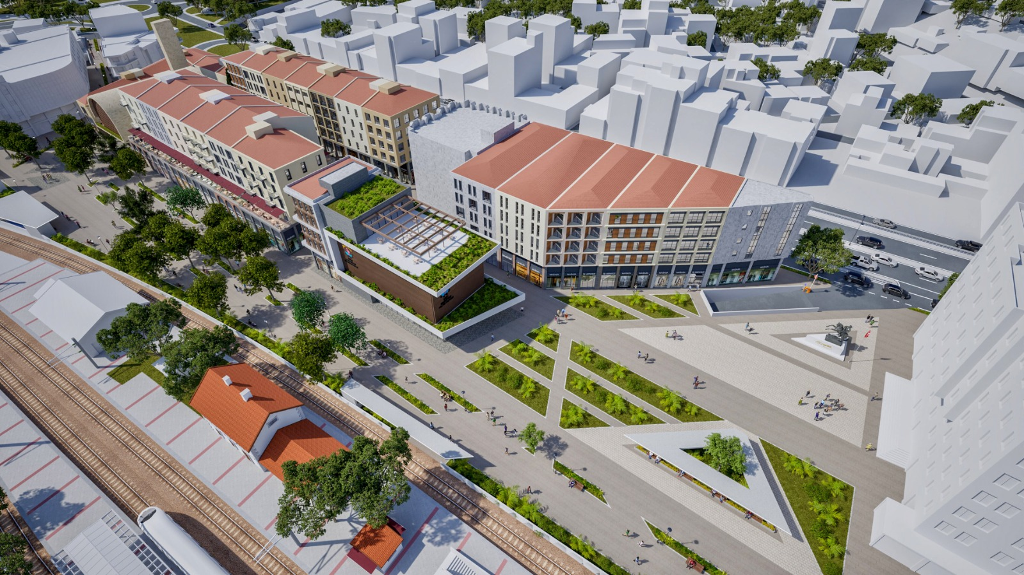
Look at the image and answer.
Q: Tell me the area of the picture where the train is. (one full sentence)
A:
You can find the train in the bottom left area of the picture.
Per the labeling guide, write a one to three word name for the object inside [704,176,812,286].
building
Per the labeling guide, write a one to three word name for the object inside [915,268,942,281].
vehicle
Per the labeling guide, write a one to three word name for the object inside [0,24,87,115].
building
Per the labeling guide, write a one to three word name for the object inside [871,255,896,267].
vehicle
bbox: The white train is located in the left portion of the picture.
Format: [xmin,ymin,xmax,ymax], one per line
[137,506,229,575]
